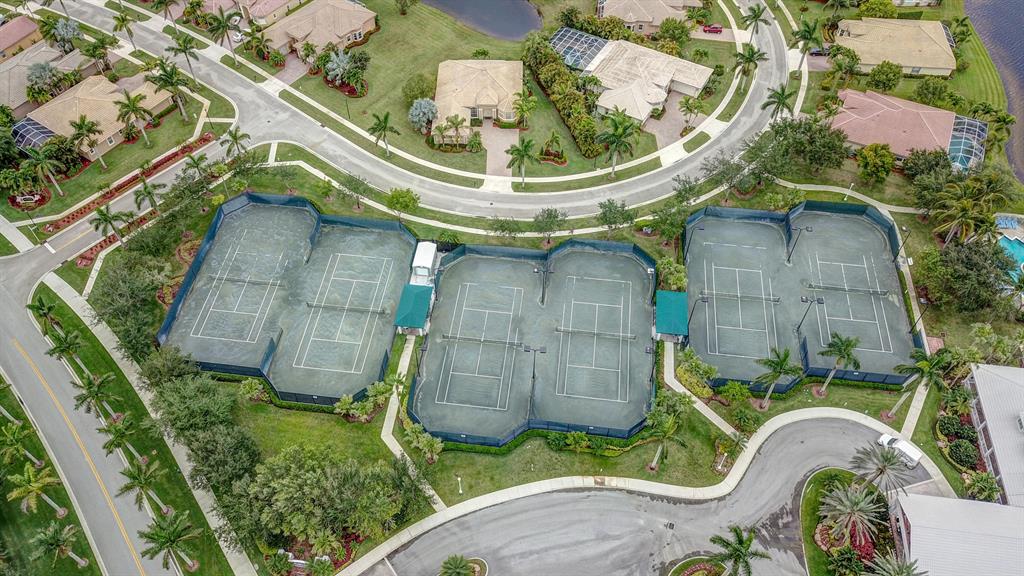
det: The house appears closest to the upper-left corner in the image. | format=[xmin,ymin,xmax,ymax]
[0,18,42,60]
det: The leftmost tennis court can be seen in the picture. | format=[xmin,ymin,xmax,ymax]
[166,204,312,375]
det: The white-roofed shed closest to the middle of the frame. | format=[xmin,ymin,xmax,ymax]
[412,242,438,276]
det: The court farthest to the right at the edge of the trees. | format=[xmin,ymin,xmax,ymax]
[790,211,921,384]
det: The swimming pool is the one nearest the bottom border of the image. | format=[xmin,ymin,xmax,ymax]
[985,212,1024,326]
